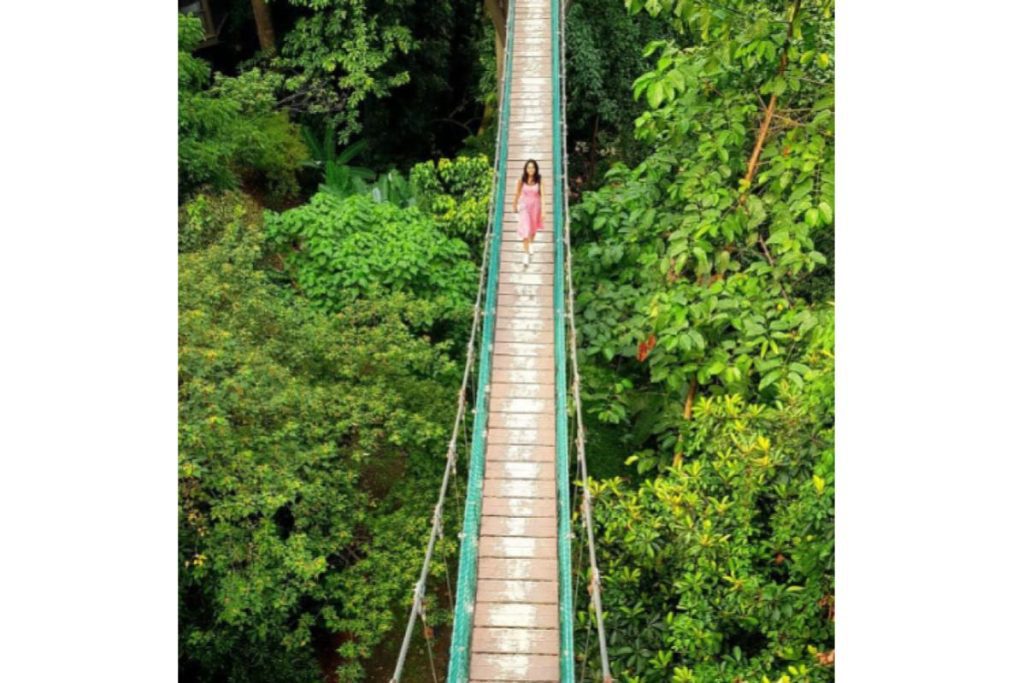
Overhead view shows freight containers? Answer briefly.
No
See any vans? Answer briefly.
No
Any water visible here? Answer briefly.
No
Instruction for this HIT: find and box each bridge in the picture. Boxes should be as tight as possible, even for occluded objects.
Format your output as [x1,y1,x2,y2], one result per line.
[387,0,615,683]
